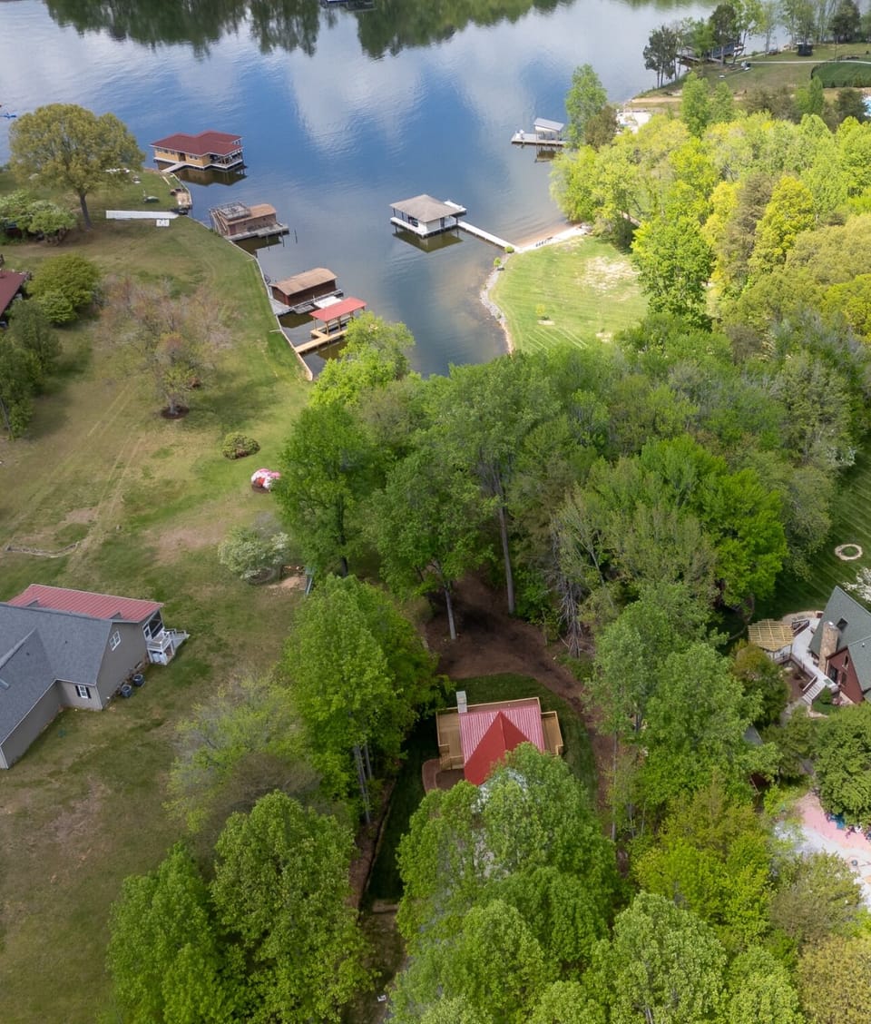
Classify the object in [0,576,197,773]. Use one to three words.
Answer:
house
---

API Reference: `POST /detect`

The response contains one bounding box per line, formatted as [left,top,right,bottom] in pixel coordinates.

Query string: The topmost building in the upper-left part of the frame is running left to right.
[151,132,257,171]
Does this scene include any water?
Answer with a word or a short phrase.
Yes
